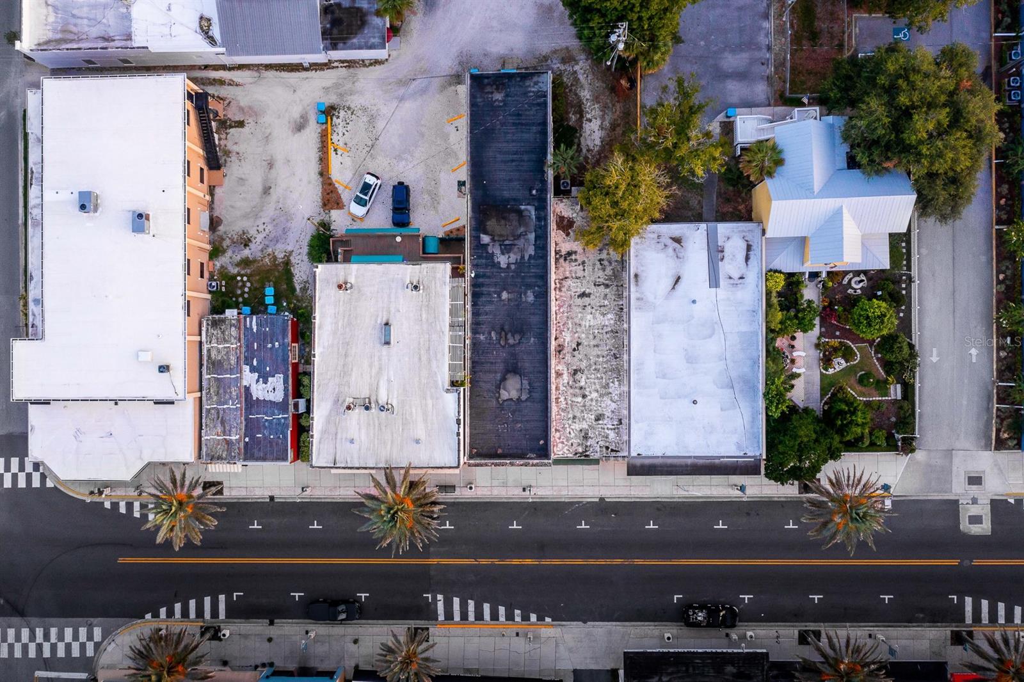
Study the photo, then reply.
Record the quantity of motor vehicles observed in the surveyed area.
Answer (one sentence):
There are 4 motor vehicles in the image.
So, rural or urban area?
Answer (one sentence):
This place is urban.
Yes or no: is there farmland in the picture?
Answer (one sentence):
No, the scene doesn't show any farmland.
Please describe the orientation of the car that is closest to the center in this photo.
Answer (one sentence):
From this overhead view, the car that is closest to the center appears to run vertically.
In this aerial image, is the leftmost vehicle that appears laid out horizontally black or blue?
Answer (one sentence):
The leftmost vehicle that appears laid out horizontally looks black in the image.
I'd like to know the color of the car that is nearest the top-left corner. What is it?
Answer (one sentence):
From above, the car that is nearest the top-left corner appears white.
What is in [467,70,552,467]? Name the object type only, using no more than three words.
building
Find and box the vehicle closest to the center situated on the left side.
[388,180,410,226]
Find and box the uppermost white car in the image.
[348,167,382,220]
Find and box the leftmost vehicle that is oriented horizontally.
[305,601,361,627]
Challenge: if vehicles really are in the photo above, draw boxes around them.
[305,601,361,627]
[388,180,410,226]
[348,167,382,220]
[685,607,740,633]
